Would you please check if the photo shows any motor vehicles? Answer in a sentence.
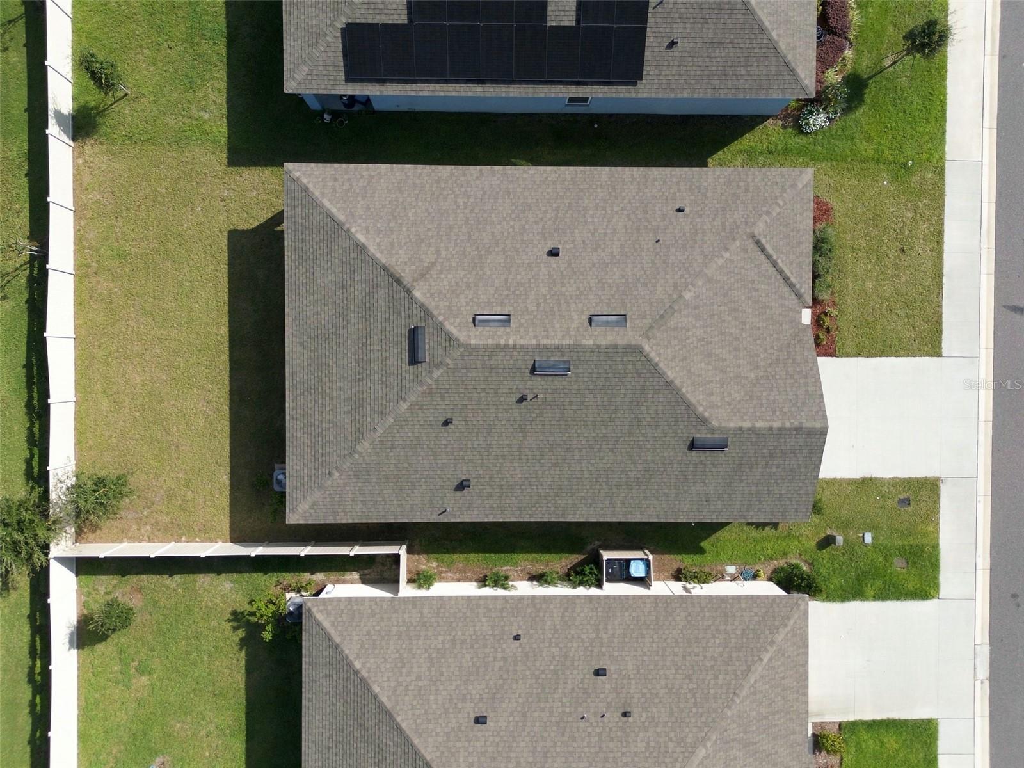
No, there isn't any motor vehicle down there.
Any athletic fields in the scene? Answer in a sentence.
No, there is no athletic field in the image.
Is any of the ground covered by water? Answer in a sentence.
No, the scene doesn't show any water.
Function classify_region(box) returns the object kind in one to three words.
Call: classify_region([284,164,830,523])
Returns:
house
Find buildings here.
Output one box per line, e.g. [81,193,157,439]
[284,164,830,523]
[303,581,809,768]
[284,0,815,114]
